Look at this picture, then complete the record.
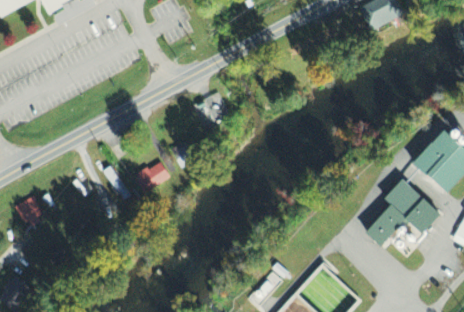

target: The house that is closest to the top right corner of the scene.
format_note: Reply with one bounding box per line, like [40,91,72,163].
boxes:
[364,0,400,30]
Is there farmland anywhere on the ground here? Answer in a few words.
No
